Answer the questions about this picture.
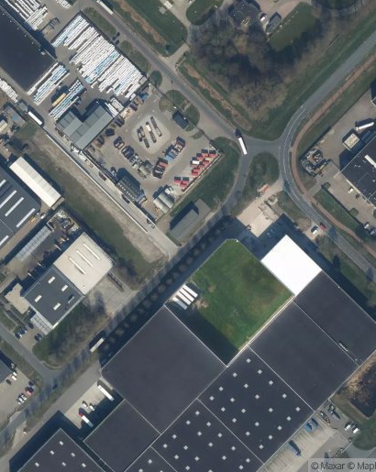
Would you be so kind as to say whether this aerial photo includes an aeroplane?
No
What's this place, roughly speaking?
industrial area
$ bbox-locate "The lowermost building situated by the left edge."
[15,427,104,472]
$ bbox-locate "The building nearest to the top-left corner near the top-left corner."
[0,7,56,92]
